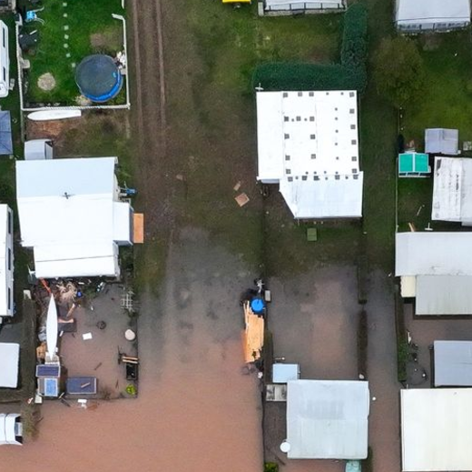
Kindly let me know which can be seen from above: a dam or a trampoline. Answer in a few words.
trampoline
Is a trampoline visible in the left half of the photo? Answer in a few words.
Yes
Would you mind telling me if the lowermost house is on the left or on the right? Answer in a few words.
right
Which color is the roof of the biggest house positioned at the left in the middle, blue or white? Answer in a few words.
white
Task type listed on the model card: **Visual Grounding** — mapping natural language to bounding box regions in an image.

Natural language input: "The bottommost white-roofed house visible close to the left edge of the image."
[16,158,135,279]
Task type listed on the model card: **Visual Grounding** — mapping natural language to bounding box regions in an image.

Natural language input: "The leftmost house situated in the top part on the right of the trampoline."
[255,83,363,221]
